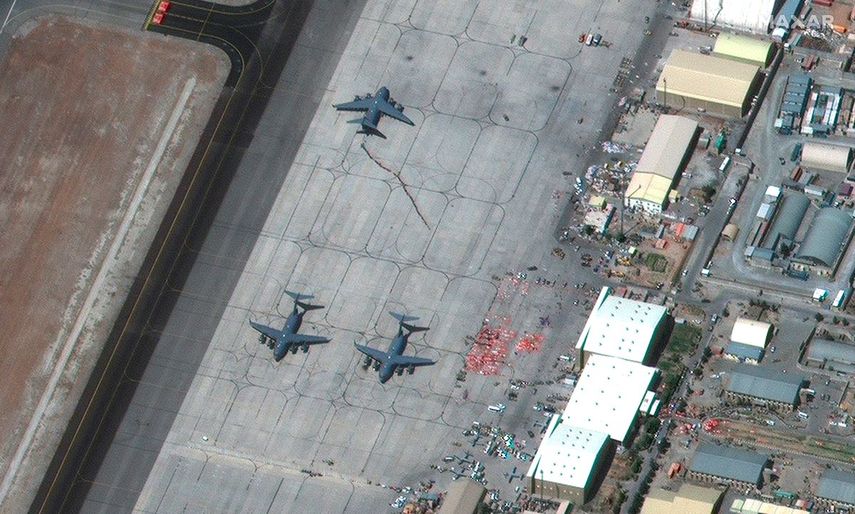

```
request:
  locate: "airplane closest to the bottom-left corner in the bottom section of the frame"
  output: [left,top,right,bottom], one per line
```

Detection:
[247,285,326,363]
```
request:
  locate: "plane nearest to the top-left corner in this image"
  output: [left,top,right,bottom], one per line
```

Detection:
[333,80,412,132]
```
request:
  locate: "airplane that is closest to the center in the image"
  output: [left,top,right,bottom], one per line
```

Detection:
[352,305,433,384]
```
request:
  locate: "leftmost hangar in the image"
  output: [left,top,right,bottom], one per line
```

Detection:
[432,477,490,514]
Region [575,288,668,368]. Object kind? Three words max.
hangar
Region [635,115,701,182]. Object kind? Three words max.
building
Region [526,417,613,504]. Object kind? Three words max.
hangar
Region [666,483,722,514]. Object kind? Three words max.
building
